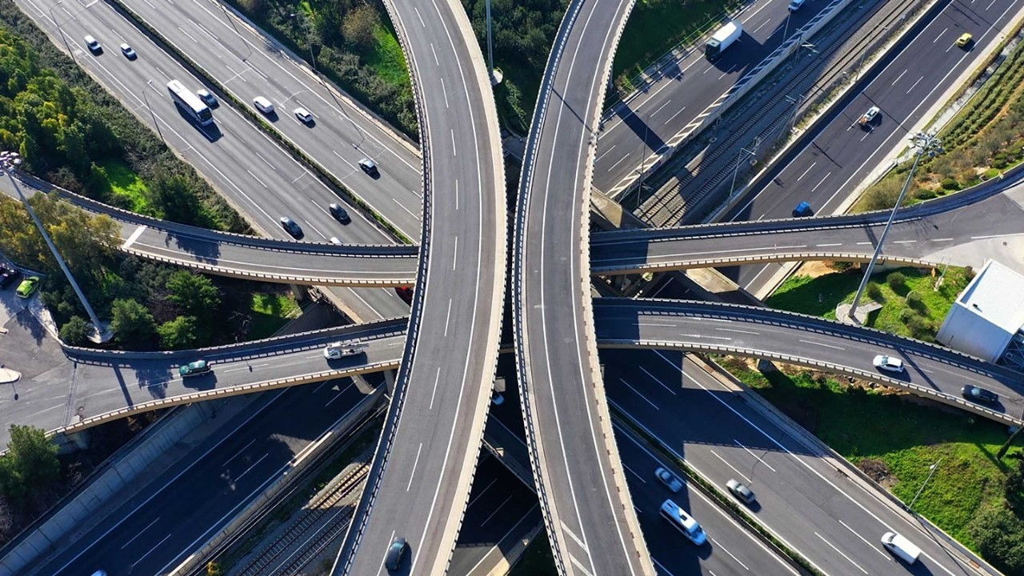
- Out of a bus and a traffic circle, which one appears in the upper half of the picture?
bus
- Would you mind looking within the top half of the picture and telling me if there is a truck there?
Yes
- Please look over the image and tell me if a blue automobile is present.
Yes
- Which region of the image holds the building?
right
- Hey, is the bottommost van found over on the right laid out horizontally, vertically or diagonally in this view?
diagonally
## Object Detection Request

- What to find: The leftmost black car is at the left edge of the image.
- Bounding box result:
[0,264,21,287]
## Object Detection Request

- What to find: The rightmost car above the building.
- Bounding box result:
[957,35,972,47]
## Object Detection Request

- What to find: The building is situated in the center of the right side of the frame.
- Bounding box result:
[935,262,1024,365]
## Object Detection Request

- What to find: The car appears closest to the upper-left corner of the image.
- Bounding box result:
[84,34,102,51]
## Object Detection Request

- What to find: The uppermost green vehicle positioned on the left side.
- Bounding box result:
[16,277,40,299]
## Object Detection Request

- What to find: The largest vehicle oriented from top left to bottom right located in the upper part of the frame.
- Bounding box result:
[167,79,216,124]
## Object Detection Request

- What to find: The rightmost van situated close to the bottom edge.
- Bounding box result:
[880,532,924,568]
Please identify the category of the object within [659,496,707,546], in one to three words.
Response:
vehicle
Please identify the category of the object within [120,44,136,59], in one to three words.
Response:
car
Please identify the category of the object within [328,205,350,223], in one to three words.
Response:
car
